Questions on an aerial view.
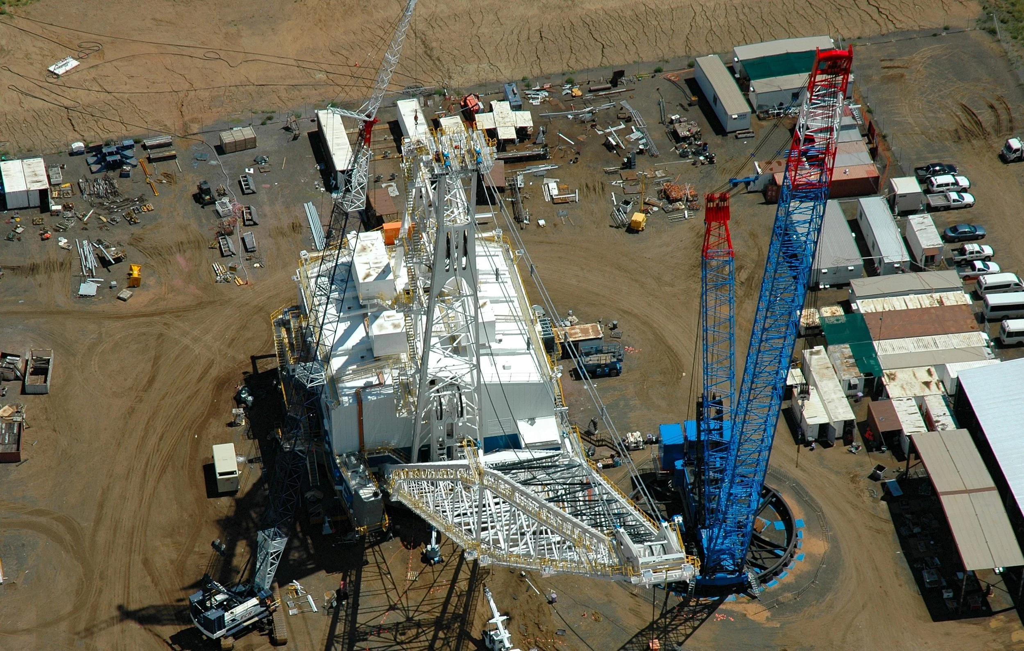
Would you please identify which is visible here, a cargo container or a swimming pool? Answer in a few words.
cargo container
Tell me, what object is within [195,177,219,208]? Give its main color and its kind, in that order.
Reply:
black work vehicle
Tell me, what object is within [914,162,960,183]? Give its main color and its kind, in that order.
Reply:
black car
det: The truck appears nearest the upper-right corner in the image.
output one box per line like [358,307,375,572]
[1002,136,1024,161]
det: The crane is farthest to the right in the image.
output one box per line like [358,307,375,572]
[621,46,861,620]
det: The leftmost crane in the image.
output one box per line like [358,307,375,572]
[185,0,420,648]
